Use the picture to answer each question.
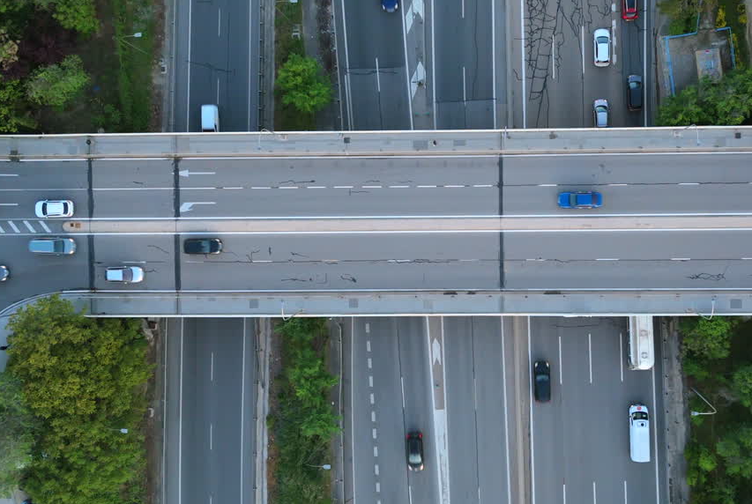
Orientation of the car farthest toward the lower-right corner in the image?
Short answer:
from top to bottom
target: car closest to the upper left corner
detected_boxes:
[37,197,76,218]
